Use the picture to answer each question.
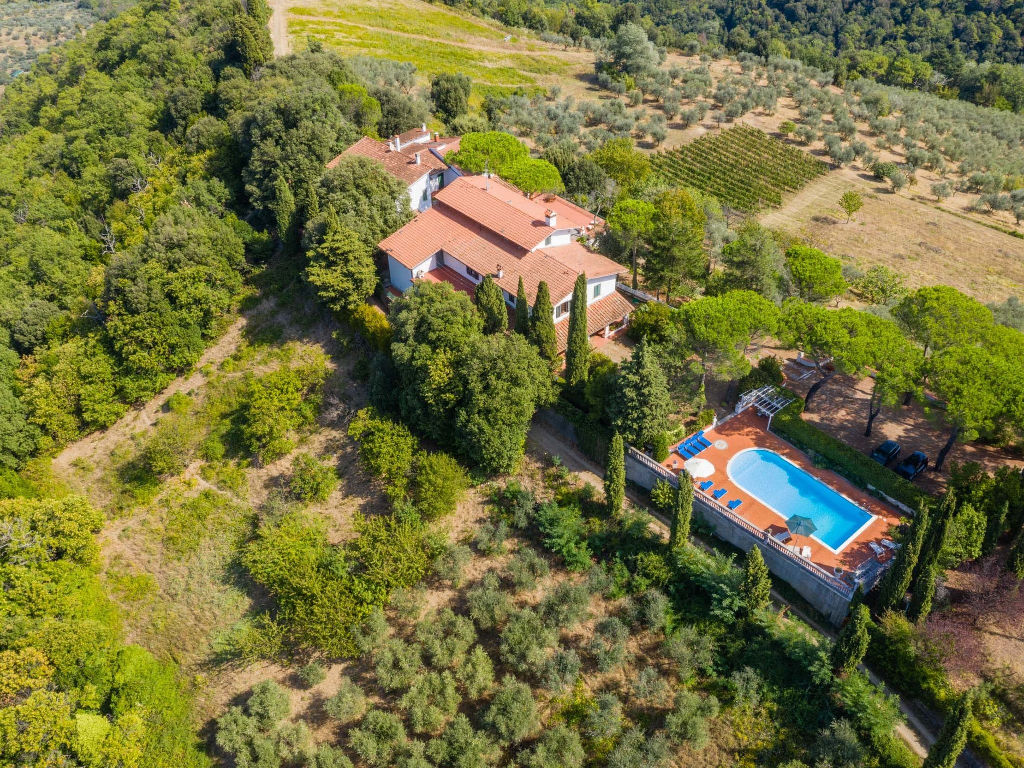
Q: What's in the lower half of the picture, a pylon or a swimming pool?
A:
swimming pool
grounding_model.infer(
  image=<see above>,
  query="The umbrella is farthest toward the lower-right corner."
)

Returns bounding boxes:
[783,512,817,554]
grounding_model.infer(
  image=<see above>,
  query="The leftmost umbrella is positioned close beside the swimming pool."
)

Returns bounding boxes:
[684,457,715,485]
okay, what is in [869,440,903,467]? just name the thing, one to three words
car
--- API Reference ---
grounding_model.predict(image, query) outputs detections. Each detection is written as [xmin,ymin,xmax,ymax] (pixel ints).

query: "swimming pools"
[727,448,878,554]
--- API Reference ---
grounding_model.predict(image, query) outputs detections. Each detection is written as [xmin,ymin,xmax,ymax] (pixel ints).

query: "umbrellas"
[684,457,715,485]
[783,512,817,554]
